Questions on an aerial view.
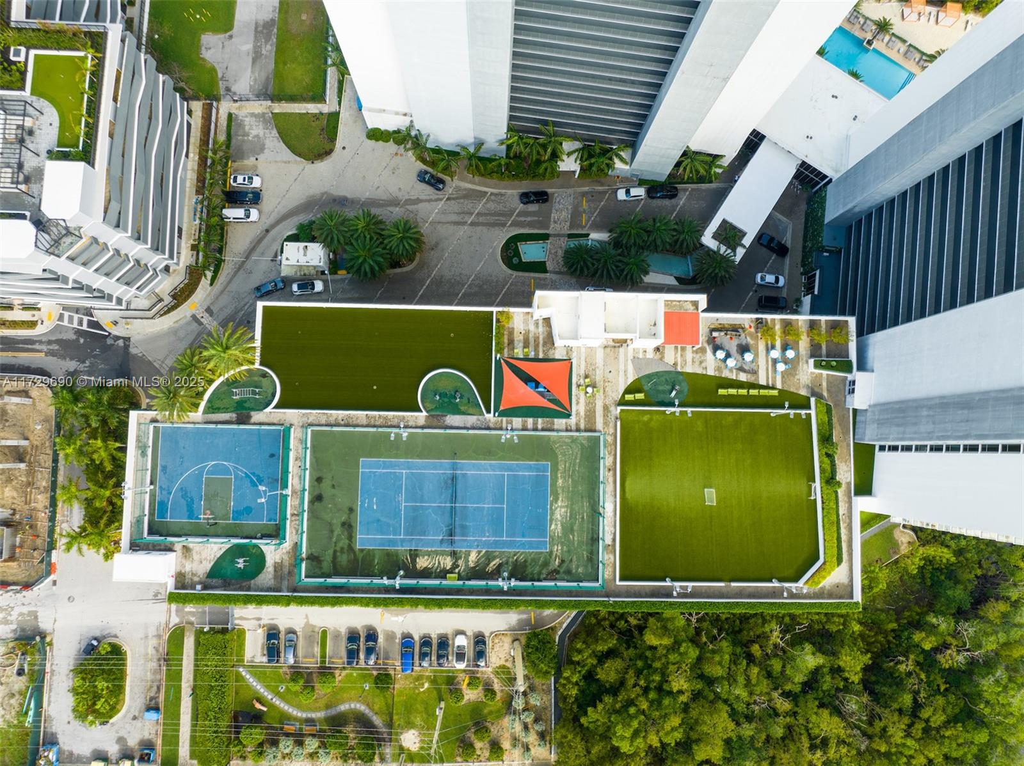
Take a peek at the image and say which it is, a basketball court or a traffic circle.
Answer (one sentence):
The image shows a basketball court.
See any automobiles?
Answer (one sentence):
Yes, an automobile appears in the view.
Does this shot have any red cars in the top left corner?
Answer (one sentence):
No, no red car is visible in the top left corner.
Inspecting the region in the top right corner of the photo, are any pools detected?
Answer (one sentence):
Yes, there is a pool in the top right corner of the photo.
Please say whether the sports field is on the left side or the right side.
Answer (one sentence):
The sports field is on the right side of the image.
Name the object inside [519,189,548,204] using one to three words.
car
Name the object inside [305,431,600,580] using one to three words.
tennis court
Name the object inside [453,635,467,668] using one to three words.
car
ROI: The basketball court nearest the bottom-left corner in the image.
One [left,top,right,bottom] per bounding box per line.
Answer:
[147,427,281,541]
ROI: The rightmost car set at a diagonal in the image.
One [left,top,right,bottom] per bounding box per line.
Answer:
[758,233,787,256]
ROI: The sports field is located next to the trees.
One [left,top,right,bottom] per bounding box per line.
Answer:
[617,397,826,587]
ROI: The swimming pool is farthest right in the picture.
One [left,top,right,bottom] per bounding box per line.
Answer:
[822,26,917,99]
